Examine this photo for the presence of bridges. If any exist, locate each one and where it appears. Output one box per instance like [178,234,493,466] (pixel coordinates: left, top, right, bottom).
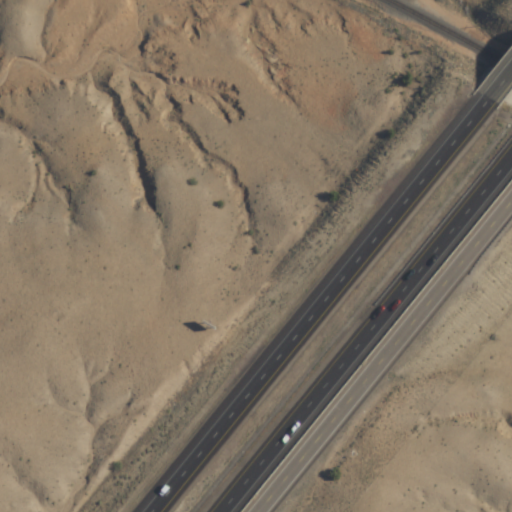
[476,45,512,104]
